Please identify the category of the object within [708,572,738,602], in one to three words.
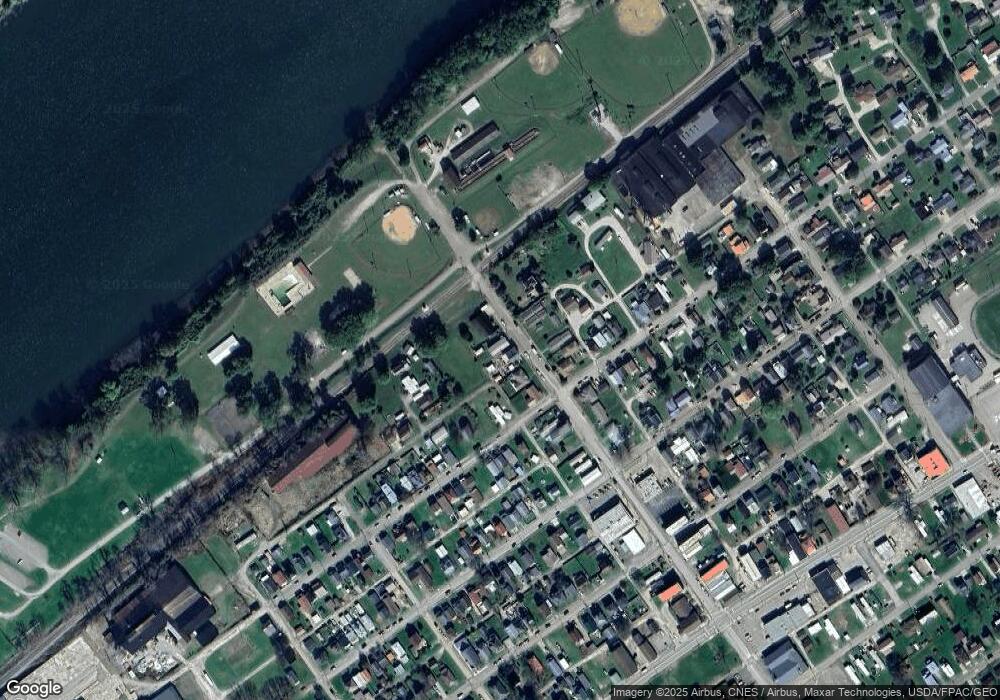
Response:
building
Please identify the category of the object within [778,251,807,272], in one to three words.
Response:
house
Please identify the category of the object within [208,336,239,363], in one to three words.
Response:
shed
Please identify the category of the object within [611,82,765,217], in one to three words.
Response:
building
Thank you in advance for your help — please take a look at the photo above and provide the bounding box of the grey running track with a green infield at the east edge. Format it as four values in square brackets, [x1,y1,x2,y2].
[969,271,1000,363]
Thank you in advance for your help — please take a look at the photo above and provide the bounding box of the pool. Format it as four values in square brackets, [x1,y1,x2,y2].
[257,263,313,316]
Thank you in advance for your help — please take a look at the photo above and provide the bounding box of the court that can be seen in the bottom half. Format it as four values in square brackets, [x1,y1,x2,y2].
[206,397,257,446]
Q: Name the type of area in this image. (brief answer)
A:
residential area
